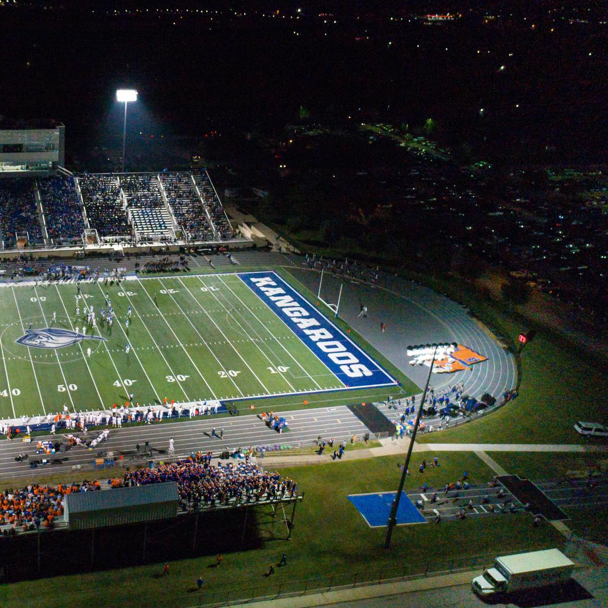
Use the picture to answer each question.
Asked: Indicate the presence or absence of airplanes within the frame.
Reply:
No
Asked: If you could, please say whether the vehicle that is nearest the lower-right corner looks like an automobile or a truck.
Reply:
truck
